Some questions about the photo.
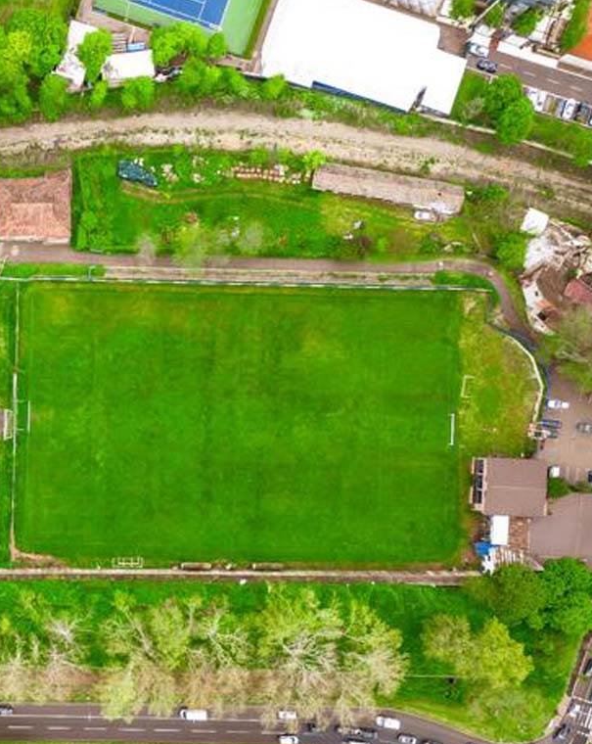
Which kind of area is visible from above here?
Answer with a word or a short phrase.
sports ground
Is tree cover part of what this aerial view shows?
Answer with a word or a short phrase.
Yes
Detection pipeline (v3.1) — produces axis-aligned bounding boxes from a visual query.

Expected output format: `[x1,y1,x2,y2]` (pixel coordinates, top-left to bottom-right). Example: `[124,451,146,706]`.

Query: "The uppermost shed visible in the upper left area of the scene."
[68,19,96,48]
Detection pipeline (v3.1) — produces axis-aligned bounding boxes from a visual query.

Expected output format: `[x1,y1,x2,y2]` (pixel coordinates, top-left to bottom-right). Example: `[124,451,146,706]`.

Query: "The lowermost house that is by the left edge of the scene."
[0,173,72,246]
